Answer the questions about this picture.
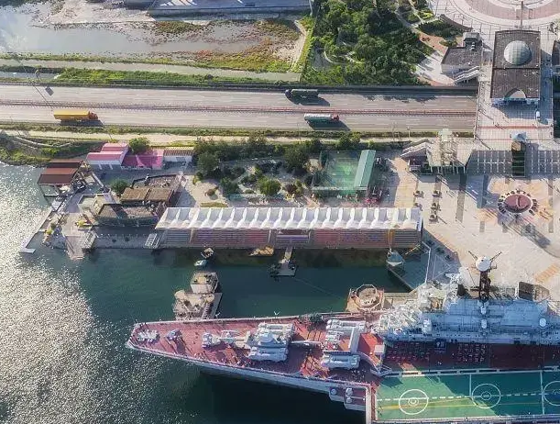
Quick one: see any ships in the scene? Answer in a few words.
Yes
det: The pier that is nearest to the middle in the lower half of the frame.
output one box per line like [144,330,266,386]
[274,250,296,278]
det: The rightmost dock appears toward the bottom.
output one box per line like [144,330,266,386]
[384,245,432,289]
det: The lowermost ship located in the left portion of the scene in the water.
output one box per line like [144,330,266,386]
[172,289,222,320]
